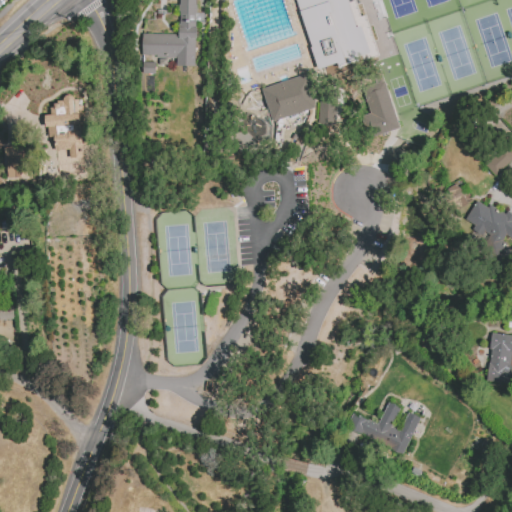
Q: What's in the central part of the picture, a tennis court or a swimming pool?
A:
tennis court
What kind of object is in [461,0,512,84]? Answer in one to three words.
tennis court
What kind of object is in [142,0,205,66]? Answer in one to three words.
house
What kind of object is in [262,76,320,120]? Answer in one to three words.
building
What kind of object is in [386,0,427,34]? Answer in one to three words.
tennis court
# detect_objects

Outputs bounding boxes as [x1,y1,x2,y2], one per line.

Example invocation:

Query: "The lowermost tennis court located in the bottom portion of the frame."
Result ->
[162,288,205,366]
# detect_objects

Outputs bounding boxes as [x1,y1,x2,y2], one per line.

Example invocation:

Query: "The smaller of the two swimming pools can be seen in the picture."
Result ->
[252,44,302,73]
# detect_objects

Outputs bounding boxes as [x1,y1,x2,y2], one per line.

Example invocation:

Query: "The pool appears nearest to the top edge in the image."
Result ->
[234,0,295,51]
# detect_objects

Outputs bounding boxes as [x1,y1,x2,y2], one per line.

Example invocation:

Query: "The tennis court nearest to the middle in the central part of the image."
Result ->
[196,208,240,284]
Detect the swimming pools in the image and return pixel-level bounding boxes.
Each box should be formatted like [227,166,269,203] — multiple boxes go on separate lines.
[234,0,295,51]
[252,44,302,73]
